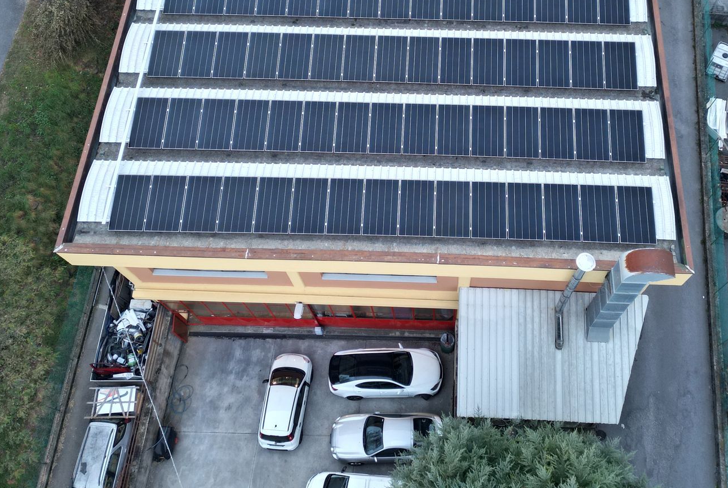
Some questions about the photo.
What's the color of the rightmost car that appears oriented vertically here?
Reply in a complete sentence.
The color of the rightmost car that appears oriented vertically is white.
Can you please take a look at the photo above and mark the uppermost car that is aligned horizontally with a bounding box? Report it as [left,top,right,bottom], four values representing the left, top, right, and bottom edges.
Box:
[328,345,444,402]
